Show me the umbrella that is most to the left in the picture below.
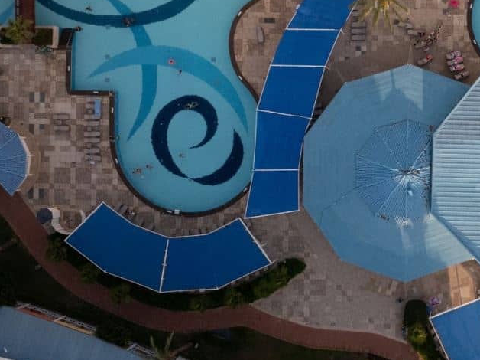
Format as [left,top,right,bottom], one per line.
[36,207,54,224]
